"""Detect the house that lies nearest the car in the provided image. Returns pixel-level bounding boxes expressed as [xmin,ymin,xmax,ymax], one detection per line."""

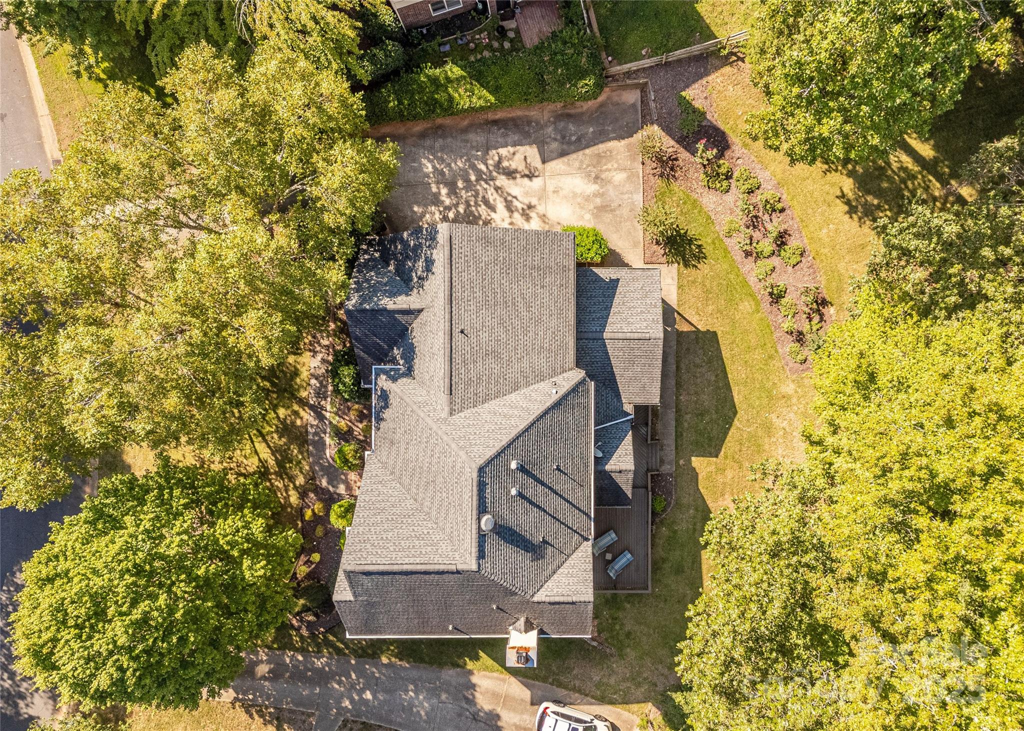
[333,223,666,668]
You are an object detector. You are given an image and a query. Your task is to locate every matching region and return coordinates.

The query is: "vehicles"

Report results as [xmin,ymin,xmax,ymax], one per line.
[540,698,611,731]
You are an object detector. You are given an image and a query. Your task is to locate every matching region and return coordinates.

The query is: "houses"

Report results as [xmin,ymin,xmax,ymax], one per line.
[394,0,475,31]
[333,223,666,668]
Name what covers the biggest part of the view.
trees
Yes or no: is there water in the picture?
No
